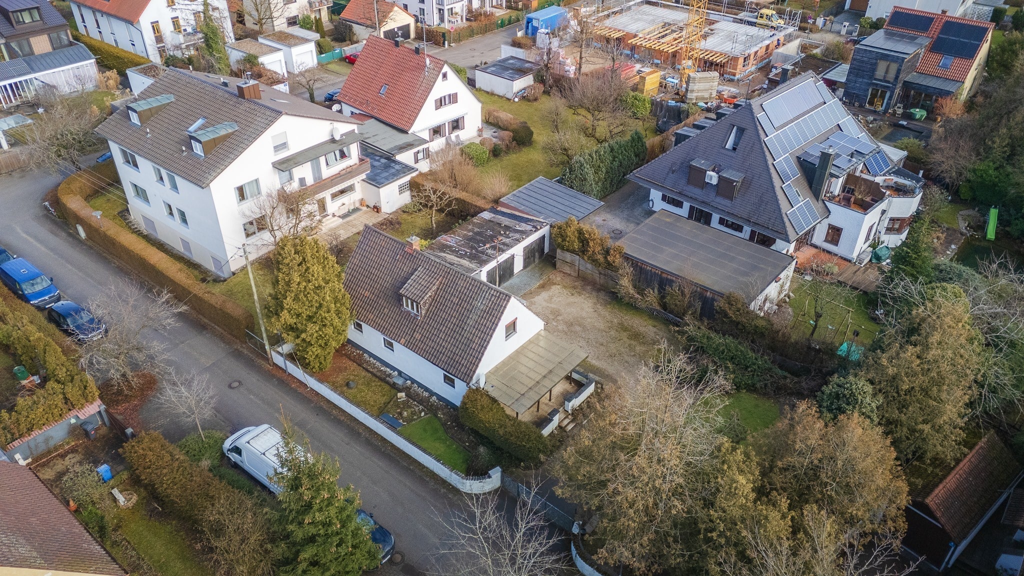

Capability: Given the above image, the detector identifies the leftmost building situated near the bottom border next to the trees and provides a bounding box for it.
[0,463,137,576]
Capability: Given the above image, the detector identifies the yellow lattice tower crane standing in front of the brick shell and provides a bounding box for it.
[660,0,726,85]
